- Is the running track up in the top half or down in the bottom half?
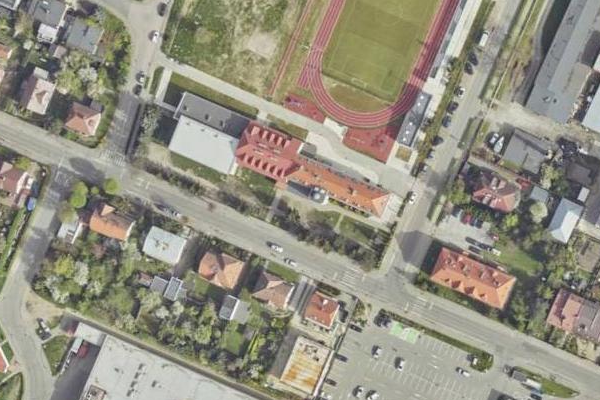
top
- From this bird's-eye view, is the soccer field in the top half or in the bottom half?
top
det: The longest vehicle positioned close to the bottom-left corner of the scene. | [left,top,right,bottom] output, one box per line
[72,338,86,359]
